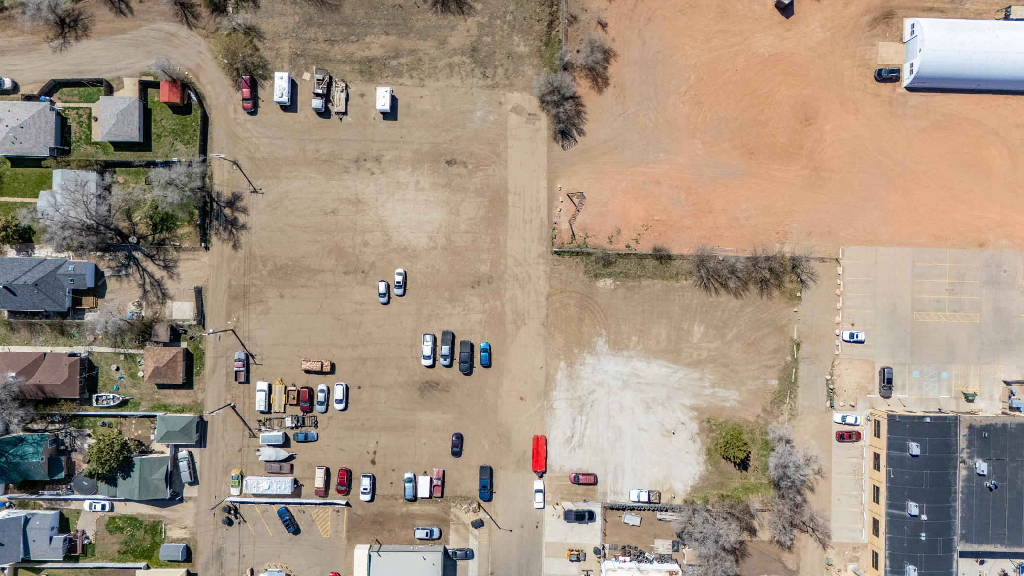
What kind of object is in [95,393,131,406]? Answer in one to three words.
boat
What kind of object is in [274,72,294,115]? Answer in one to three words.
trailer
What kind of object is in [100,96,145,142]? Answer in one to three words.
building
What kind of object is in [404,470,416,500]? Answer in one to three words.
vehicle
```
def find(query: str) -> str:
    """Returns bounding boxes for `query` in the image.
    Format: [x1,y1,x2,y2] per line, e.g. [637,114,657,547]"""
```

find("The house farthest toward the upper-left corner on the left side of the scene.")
[0,100,61,156]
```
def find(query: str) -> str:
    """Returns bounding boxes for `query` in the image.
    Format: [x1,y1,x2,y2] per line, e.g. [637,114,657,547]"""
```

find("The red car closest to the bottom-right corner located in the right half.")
[834,430,860,443]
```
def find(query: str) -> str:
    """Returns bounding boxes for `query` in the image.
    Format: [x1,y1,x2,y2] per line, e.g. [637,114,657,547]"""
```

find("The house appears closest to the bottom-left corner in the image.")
[0,511,78,563]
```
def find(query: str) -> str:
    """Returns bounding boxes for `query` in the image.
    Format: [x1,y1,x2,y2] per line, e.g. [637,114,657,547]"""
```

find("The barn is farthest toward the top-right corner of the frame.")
[905,17,1024,90]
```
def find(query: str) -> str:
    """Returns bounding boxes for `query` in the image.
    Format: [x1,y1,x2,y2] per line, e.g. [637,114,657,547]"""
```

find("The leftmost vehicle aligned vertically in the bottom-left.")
[176,448,195,483]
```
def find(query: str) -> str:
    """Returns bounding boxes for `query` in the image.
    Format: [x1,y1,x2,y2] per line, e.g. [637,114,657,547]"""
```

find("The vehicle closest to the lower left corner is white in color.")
[84,499,113,513]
